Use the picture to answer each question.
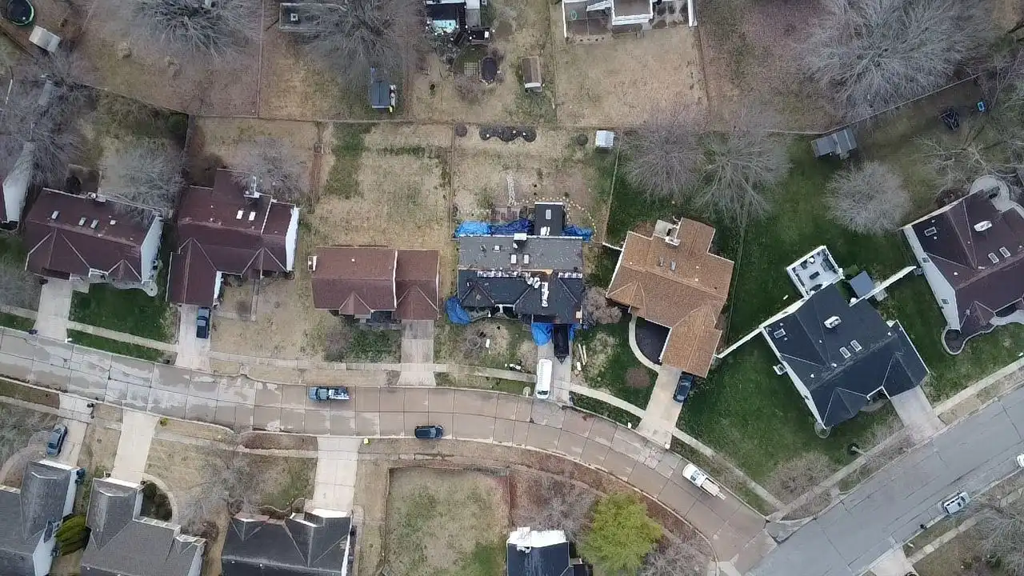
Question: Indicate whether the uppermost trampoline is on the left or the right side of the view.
left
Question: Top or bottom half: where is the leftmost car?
bottom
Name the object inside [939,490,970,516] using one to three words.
car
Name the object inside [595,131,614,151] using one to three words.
shed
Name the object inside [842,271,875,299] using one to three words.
shed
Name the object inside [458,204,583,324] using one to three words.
house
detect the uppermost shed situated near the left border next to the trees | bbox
[29,26,63,53]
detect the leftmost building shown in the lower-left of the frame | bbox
[0,456,81,576]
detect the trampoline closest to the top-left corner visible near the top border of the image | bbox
[2,0,38,26]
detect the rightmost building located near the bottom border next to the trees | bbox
[506,527,590,576]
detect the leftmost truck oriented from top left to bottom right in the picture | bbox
[682,465,720,496]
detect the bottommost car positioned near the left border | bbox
[45,423,69,457]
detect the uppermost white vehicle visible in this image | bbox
[535,358,552,399]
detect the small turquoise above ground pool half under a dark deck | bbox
[433,20,457,37]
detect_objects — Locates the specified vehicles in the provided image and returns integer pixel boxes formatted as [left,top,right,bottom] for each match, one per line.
[904,571,917,576]
[682,465,720,496]
[535,358,552,399]
[310,386,351,401]
[939,490,970,516]
[672,372,692,402]
[45,423,69,457]
[195,306,213,339]
[1013,450,1024,466]
[415,425,443,439]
